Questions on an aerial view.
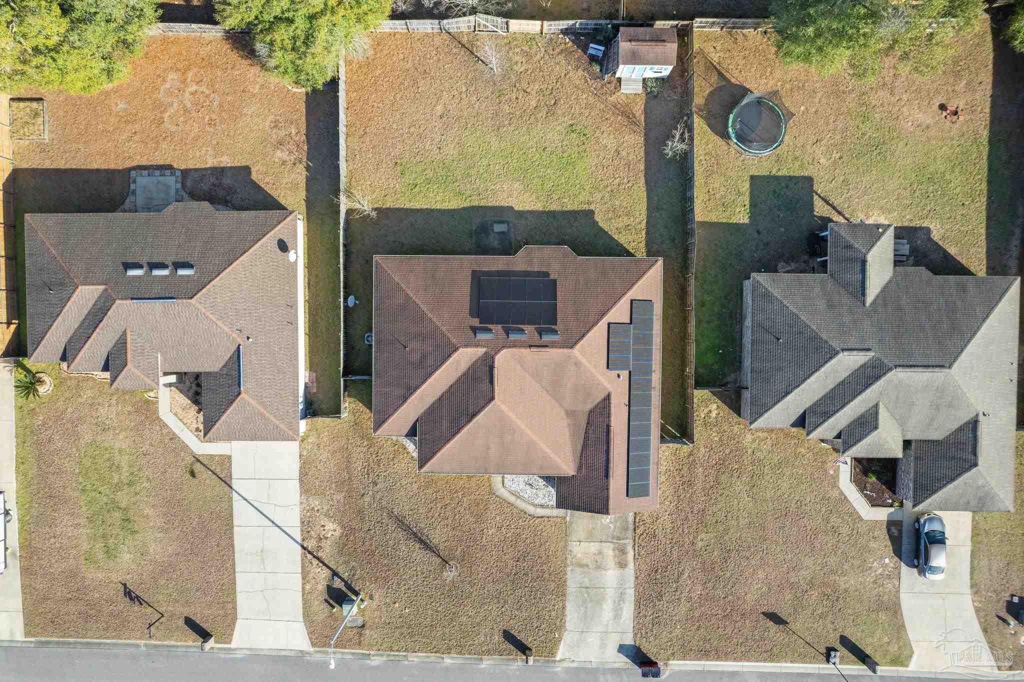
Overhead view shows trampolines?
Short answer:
Yes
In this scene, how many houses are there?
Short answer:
3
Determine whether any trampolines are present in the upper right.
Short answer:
Yes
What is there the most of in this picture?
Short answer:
grass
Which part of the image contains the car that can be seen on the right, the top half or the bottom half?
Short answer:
bottom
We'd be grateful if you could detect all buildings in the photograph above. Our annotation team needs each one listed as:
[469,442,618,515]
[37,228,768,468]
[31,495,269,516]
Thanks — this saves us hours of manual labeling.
[616,34,679,93]
[372,246,663,515]
[24,201,306,442]
[742,222,1021,512]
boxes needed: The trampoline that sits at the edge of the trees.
[724,85,798,163]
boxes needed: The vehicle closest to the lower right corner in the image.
[915,513,952,580]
